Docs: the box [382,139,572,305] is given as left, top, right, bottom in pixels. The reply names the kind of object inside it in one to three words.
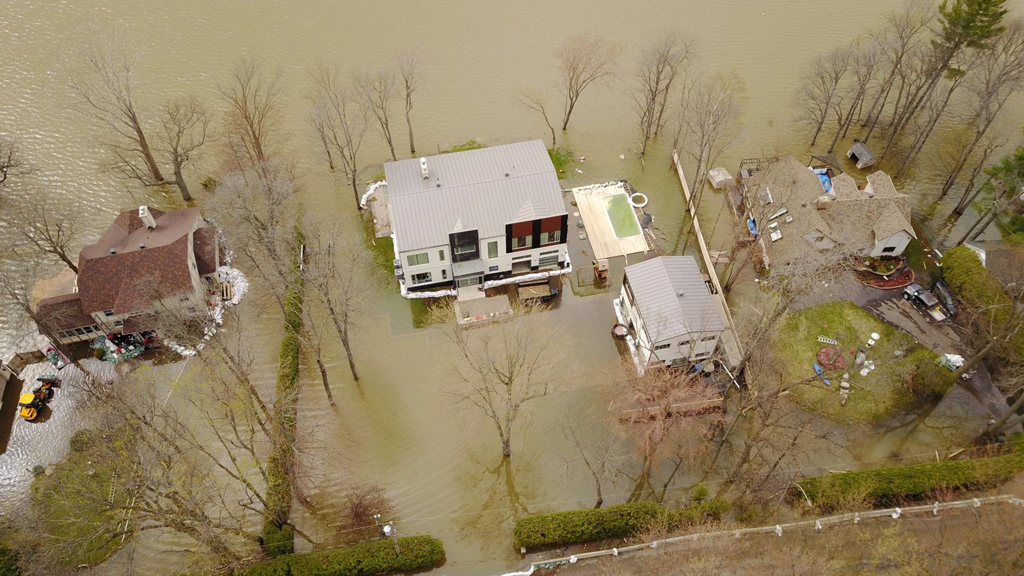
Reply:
house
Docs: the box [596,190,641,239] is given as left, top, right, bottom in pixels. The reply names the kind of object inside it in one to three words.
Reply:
swimming pool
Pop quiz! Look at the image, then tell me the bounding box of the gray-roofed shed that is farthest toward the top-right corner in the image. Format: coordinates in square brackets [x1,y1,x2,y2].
[848,143,881,171]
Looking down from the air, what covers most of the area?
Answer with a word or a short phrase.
water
